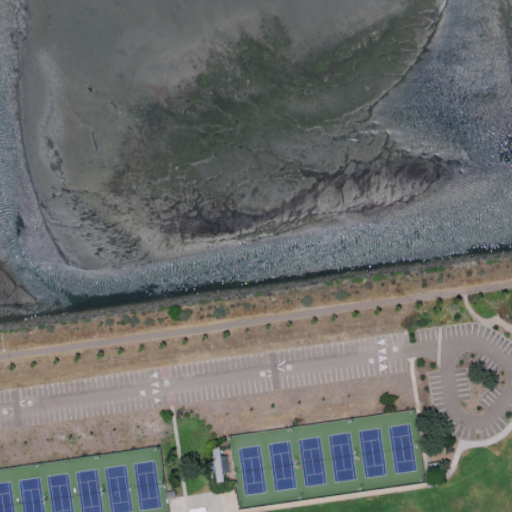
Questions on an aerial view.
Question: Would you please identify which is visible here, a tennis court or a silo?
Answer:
tennis court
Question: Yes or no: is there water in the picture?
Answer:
Yes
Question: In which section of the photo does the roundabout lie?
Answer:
bottom right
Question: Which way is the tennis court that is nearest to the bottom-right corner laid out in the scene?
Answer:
vertically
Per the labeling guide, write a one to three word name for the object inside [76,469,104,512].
tennis court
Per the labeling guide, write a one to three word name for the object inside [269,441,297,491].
tennis court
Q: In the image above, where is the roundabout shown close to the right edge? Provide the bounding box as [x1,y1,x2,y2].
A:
[441,335,512,428]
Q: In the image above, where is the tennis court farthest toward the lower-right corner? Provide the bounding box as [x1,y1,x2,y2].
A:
[389,424,417,474]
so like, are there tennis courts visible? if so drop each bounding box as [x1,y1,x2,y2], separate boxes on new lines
[239,446,267,496]
[389,424,417,474]
[359,428,387,478]
[18,478,45,512]
[329,432,357,482]
[48,474,74,512]
[134,461,162,511]
[299,437,327,487]
[76,469,104,512]
[269,441,297,491]
[105,465,133,512]
[0,482,16,512]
